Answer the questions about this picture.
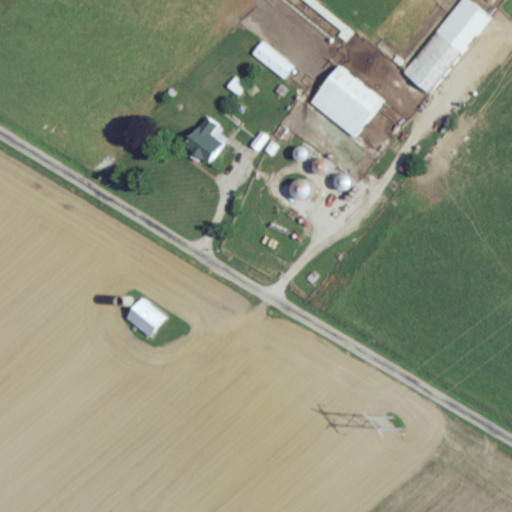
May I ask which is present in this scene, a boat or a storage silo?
storage silo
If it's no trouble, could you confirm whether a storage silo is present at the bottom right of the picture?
No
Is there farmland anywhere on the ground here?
Yes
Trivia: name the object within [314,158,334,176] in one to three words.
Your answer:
silo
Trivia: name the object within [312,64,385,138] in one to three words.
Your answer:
barn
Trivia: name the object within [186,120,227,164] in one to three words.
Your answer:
house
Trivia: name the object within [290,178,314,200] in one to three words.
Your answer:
silo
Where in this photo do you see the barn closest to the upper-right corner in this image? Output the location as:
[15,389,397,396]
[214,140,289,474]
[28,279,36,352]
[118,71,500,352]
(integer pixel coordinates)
[436,0,494,56]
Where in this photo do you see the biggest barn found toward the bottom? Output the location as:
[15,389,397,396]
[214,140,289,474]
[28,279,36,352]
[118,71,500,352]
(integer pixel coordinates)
[126,296,168,338]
